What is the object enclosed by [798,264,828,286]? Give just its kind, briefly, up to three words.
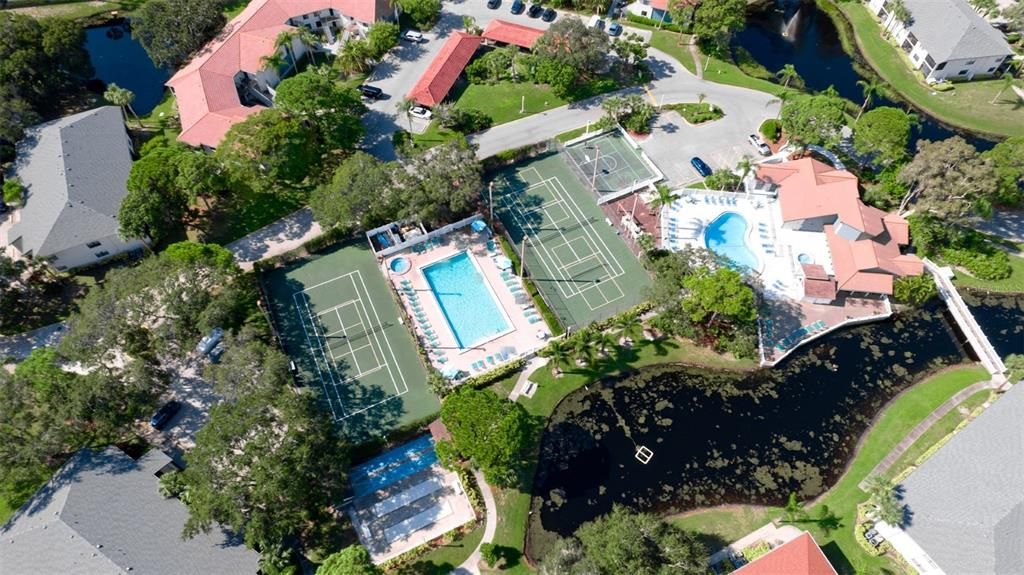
shed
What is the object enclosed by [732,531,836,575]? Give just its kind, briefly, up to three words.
building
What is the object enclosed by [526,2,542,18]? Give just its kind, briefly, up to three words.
car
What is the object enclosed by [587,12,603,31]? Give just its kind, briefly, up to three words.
vehicle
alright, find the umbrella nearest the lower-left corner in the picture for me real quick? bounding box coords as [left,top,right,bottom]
[443,367,460,383]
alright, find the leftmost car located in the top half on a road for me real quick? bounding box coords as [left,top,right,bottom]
[358,81,383,98]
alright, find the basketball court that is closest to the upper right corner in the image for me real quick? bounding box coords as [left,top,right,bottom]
[561,122,659,200]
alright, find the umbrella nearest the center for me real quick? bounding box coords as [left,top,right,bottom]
[496,258,511,273]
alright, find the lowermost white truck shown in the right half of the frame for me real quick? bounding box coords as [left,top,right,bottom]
[748,133,774,157]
